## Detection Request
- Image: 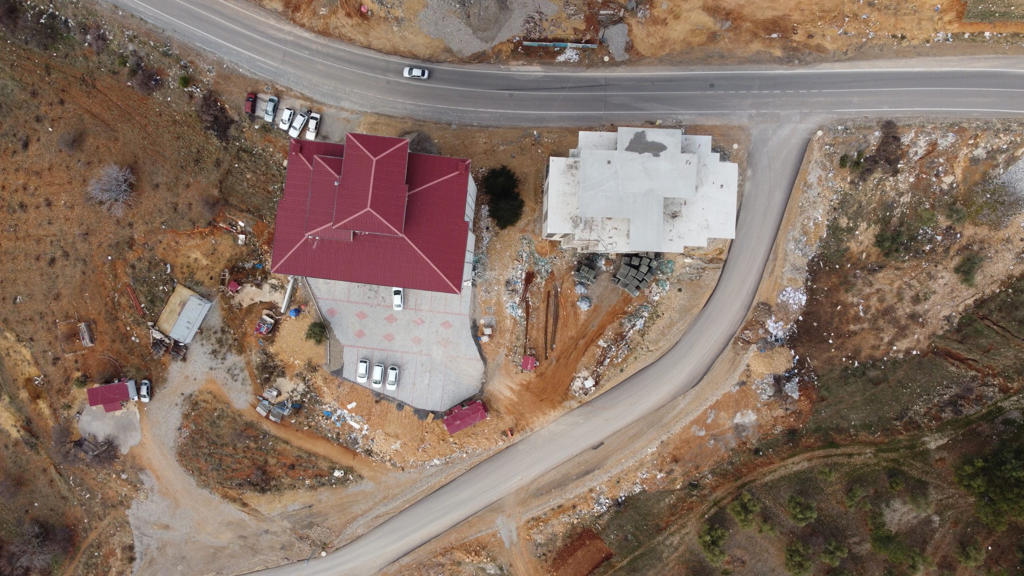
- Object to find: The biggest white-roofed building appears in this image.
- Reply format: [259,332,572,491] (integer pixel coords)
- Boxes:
[543,127,738,257]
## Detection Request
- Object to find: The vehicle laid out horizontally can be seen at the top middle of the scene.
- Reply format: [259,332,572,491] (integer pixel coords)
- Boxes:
[403,68,429,81]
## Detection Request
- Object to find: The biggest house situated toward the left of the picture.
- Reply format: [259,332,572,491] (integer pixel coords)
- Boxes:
[272,132,473,293]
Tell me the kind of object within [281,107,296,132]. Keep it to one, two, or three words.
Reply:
car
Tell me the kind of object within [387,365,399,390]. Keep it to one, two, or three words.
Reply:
vehicle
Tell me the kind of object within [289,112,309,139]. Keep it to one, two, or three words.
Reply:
car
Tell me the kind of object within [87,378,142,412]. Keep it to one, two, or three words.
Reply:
shed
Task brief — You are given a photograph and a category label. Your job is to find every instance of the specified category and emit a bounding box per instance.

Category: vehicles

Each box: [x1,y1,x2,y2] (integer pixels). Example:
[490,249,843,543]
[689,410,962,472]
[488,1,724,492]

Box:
[139,379,153,402]
[393,286,404,310]
[403,68,429,81]
[371,363,385,388]
[356,358,370,383]
[289,112,309,139]
[281,107,296,132]
[387,365,399,390]
[264,96,279,123]
[306,113,322,141]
